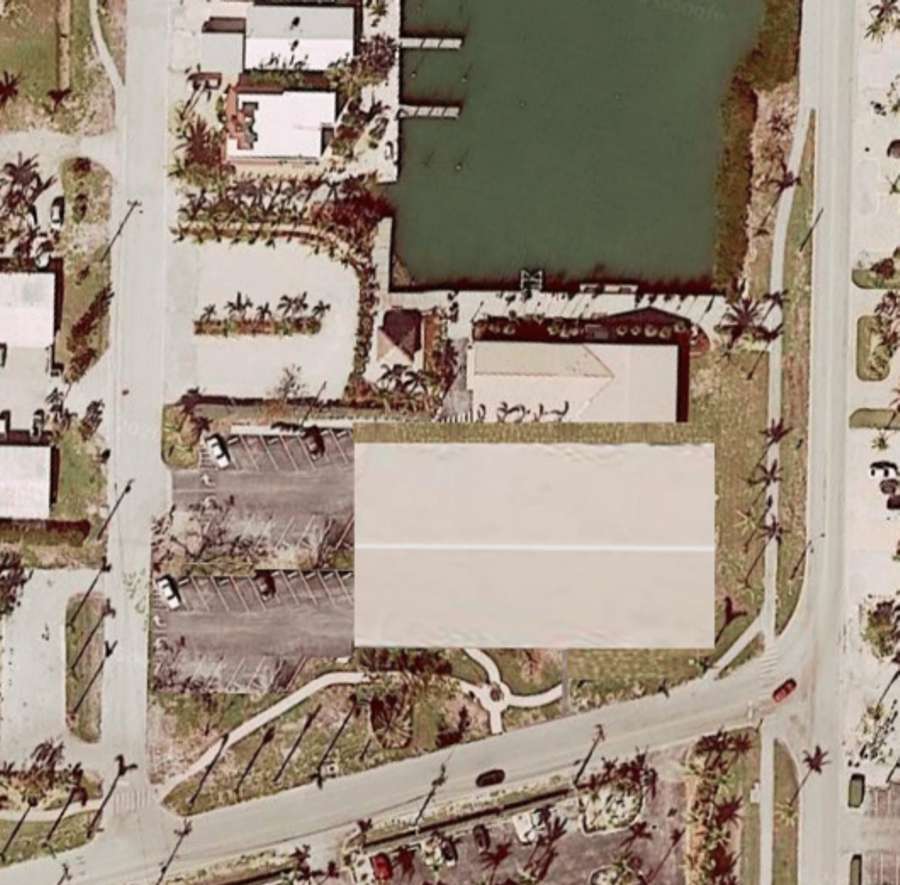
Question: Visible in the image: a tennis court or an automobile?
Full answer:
This aerial view contains an automobile.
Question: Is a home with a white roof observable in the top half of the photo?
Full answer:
Yes, I can see a home with a white roof in the top half of the photo.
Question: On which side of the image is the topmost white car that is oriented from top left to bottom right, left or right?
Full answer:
The topmost white car that is oriented from top left to bottom right is on the left side of the image.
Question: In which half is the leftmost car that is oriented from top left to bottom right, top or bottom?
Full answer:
The leftmost car that is oriented from top left to bottom right is in the bottom half of the image.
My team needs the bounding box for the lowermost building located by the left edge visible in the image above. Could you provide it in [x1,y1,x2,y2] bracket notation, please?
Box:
[0,446,50,518]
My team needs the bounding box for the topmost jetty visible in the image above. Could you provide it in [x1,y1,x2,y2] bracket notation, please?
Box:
[402,37,461,50]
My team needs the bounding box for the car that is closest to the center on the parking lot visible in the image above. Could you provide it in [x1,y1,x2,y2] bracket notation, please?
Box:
[306,429,325,457]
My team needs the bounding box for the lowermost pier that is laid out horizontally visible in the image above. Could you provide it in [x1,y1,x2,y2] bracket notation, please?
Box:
[401,105,459,119]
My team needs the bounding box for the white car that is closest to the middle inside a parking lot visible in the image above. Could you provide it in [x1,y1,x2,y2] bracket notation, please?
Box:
[206,438,230,468]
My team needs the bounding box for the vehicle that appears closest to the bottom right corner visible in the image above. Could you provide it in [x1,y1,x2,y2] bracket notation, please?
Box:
[773,678,797,702]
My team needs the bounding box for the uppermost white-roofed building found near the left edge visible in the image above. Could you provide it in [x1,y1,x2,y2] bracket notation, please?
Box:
[0,272,54,350]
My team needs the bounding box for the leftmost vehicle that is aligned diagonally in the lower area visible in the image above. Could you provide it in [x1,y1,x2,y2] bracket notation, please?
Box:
[158,578,182,609]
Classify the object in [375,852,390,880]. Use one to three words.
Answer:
car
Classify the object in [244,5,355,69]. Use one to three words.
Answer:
house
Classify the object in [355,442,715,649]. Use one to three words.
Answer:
building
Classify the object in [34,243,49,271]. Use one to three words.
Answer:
car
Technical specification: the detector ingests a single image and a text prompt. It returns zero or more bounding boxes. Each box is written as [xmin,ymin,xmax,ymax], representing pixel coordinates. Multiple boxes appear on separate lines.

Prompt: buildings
[355,442,715,649]
[244,5,355,69]
[468,341,679,421]
[0,446,50,518]
[0,272,54,350]
[377,326,413,362]
[226,88,336,165]
[200,33,243,72]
